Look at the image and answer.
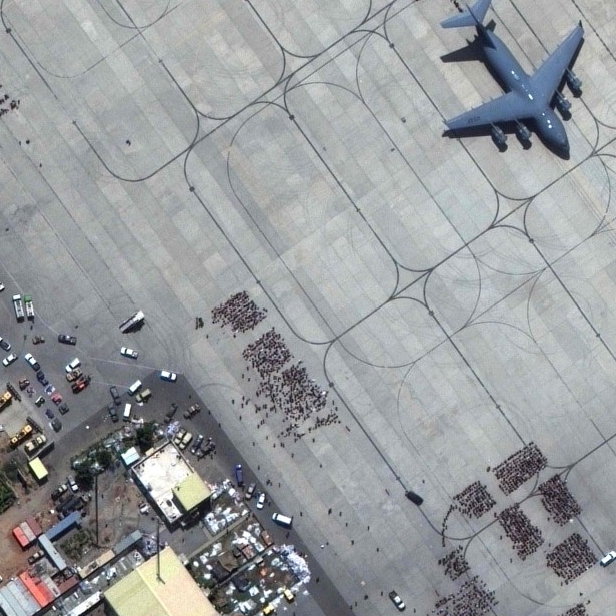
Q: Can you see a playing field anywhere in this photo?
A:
No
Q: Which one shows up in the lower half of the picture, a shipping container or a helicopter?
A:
shipping container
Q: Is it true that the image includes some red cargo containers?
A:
Yes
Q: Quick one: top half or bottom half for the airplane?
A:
top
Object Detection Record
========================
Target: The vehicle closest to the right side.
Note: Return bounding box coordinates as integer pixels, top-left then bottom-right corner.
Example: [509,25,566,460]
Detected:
[600,552,616,565]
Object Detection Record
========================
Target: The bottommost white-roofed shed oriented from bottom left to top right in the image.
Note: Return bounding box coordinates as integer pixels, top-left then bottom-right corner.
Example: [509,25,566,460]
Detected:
[63,591,103,616]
